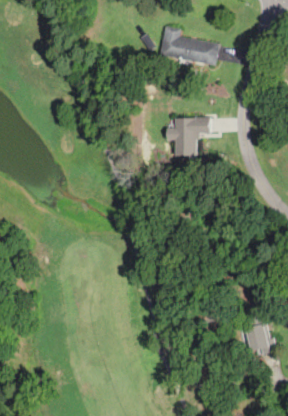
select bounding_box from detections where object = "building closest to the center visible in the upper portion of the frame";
[166,116,212,155]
